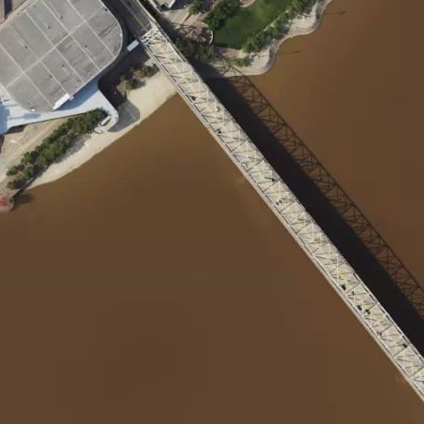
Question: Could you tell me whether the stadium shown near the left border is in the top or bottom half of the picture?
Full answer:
The stadium shown near the left border sits in the top half of the picture.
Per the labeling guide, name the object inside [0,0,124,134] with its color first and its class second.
gray stadium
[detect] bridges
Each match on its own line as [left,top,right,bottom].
[135,22,424,400]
